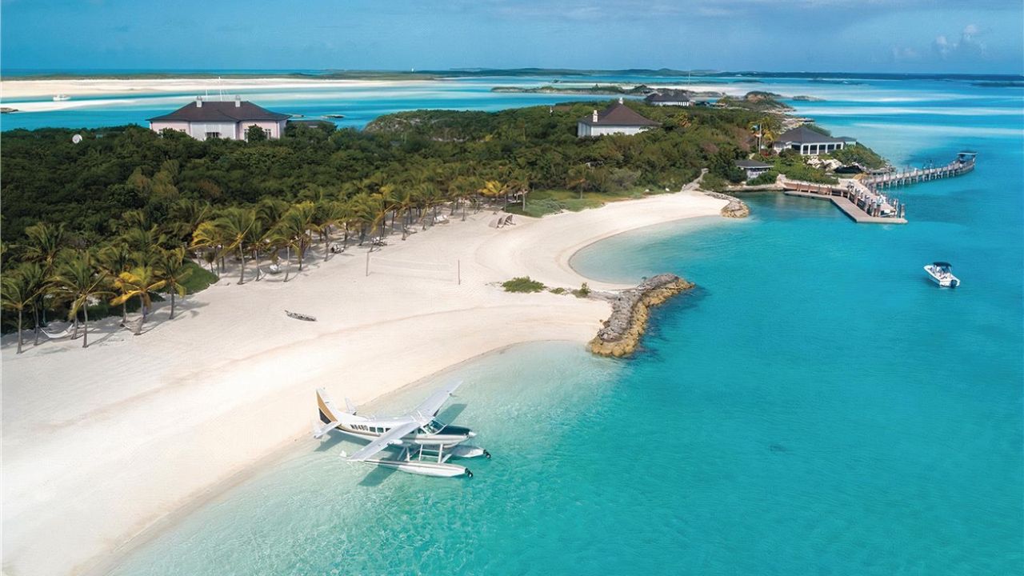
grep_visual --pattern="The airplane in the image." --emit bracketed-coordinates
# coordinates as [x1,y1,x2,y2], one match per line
[307,373,491,479]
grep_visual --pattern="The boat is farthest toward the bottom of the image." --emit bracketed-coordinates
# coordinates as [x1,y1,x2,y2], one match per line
[281,306,317,320]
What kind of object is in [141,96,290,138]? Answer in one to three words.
house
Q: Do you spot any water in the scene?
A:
Yes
